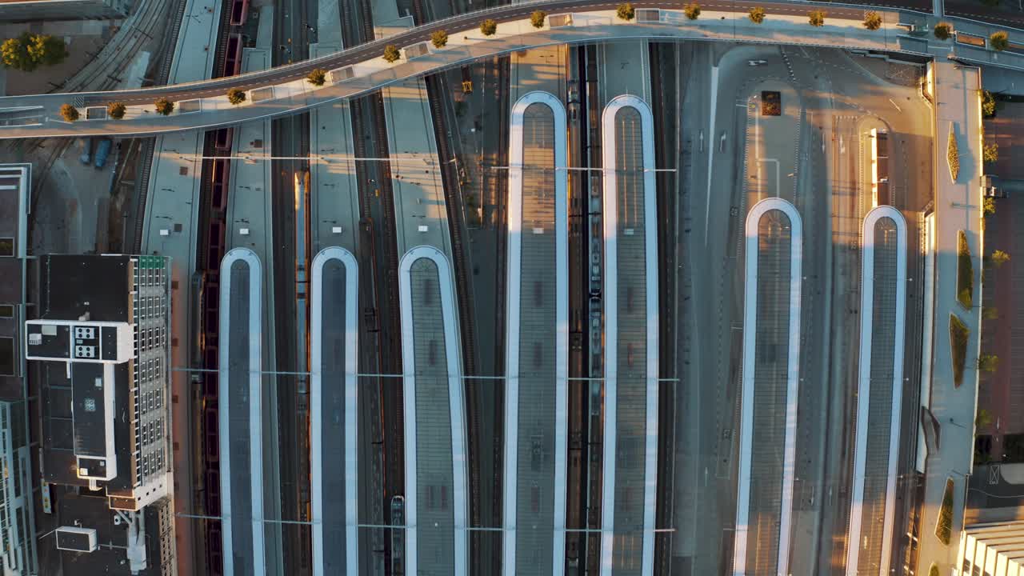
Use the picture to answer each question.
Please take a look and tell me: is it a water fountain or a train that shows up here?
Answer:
train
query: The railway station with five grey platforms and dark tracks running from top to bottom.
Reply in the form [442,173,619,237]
[5,0,673,576]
